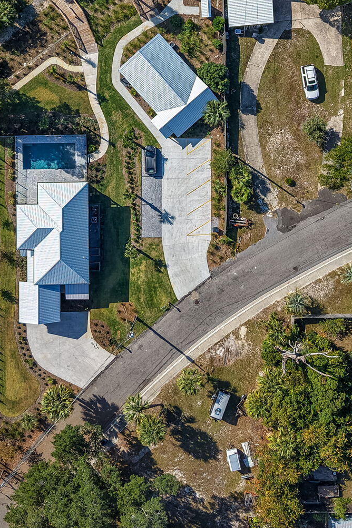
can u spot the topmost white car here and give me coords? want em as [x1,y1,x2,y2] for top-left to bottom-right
[300,65,319,100]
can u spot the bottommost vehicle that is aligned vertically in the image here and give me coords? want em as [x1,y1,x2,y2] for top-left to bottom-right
[227,445,241,476]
